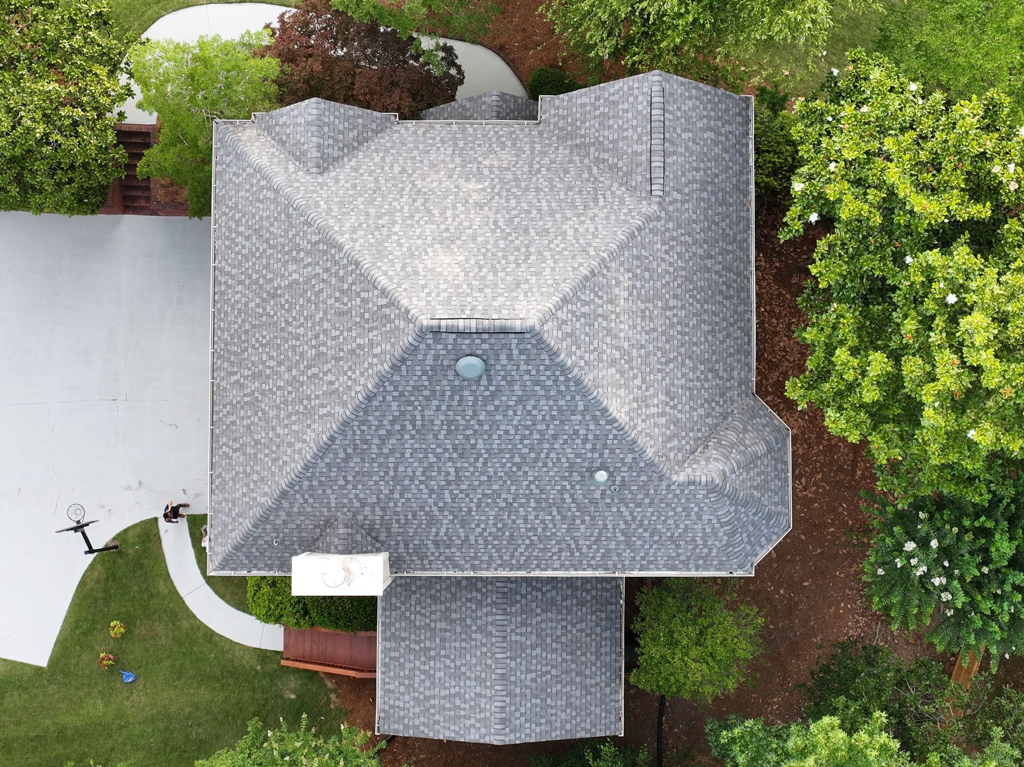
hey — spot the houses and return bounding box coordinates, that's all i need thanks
[208,69,792,744]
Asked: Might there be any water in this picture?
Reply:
No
